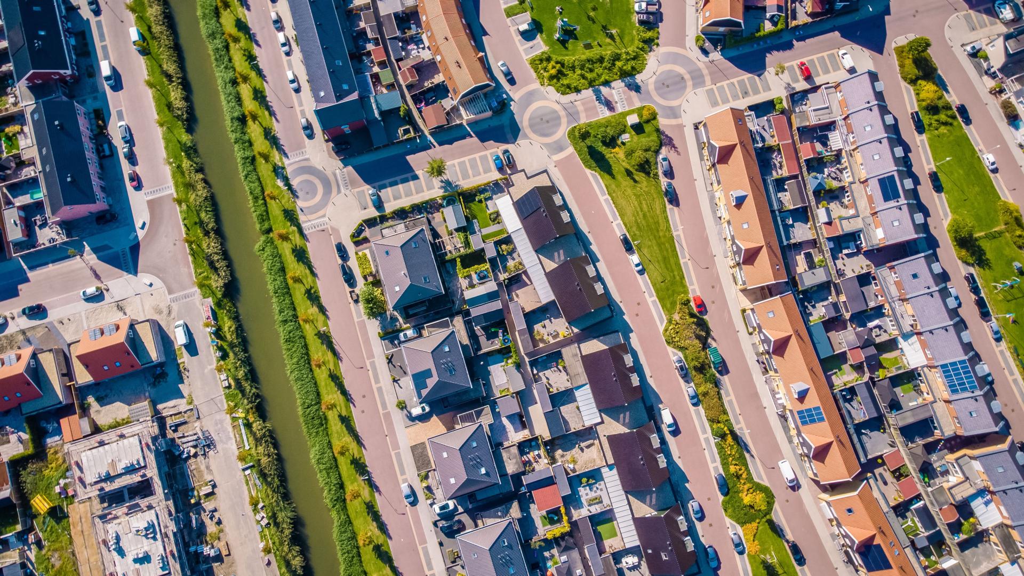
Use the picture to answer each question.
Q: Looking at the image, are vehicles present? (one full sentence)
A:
Yes, the image includes a vehicle.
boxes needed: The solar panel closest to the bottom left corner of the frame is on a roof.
[412,369,432,399]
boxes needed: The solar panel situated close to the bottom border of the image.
[857,544,892,572]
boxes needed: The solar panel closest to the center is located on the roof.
[515,189,541,219]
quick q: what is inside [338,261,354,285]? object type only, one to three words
car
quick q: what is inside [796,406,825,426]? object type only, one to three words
solar panel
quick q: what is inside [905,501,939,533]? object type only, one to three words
shed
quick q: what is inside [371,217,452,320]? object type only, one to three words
house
